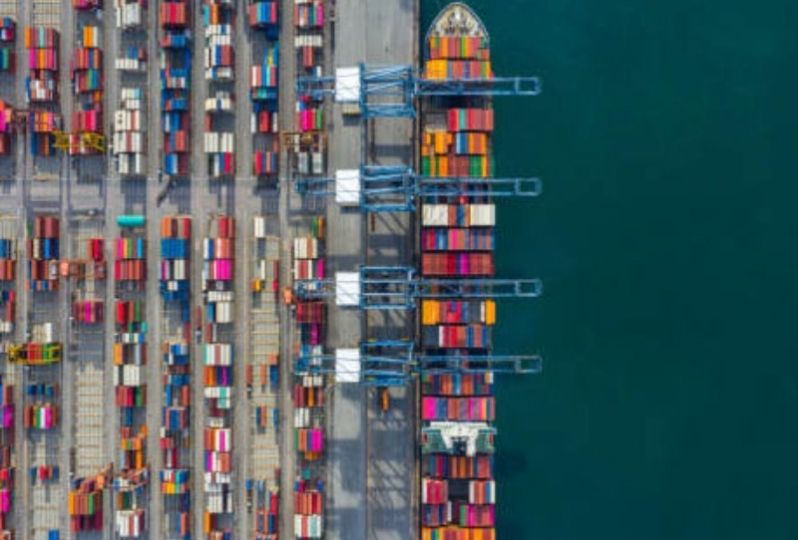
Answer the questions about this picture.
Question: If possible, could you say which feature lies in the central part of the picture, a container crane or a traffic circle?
container crane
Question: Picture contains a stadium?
No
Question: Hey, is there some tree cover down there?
No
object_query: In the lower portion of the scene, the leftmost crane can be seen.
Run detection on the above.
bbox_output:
[9,339,65,364]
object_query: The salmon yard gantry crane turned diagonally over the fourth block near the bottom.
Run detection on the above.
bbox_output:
[115,457,158,495]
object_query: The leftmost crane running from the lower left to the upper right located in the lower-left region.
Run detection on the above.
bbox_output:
[79,452,122,489]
